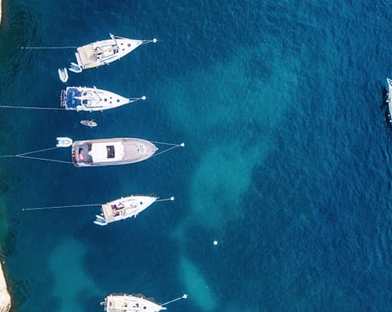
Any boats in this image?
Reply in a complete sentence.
Yes, a boat can be made out from above.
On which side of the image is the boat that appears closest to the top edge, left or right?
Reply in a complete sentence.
It is on the left.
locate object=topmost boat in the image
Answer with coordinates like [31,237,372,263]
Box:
[74,34,145,67]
